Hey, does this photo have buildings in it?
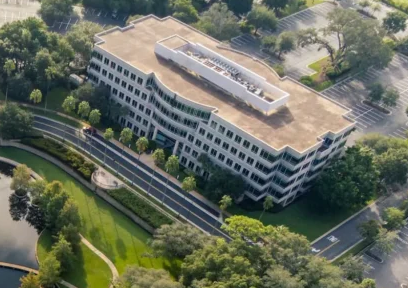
Yes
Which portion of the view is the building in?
center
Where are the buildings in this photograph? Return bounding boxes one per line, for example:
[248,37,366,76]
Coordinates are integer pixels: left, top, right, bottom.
[89,14,356,214]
